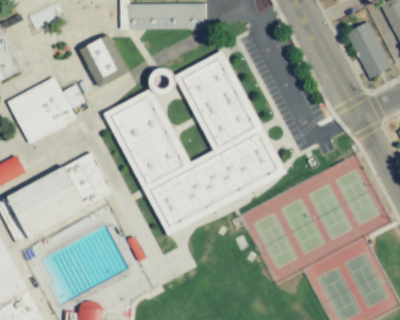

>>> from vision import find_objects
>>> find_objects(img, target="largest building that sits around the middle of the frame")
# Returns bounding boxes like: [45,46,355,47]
[104,50,286,236]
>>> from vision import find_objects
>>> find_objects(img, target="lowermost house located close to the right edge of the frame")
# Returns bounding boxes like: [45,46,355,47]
[350,22,391,79]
